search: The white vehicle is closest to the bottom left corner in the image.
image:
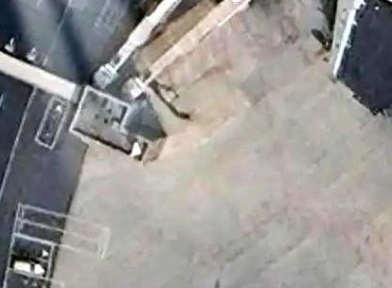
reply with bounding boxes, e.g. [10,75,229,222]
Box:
[13,261,45,276]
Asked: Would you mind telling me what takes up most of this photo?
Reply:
paved ground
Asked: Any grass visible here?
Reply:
No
